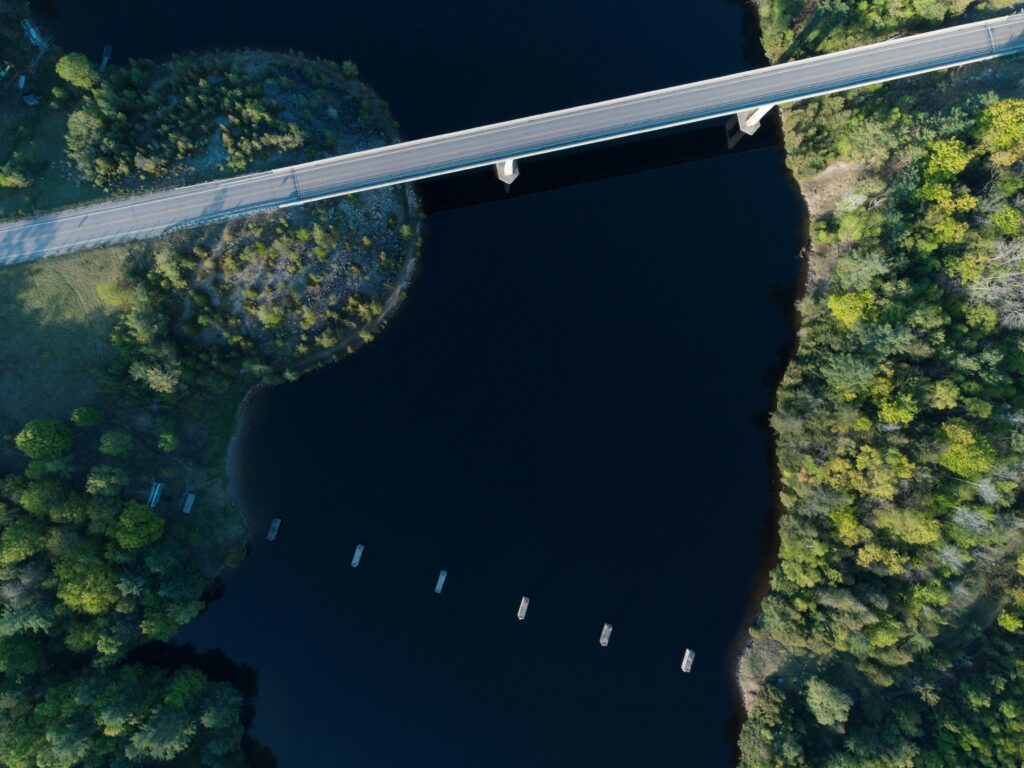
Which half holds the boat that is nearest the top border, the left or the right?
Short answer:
left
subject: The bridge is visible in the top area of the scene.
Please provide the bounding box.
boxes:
[269,16,1005,205]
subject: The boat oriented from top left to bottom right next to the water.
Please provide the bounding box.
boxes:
[24,21,45,45]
